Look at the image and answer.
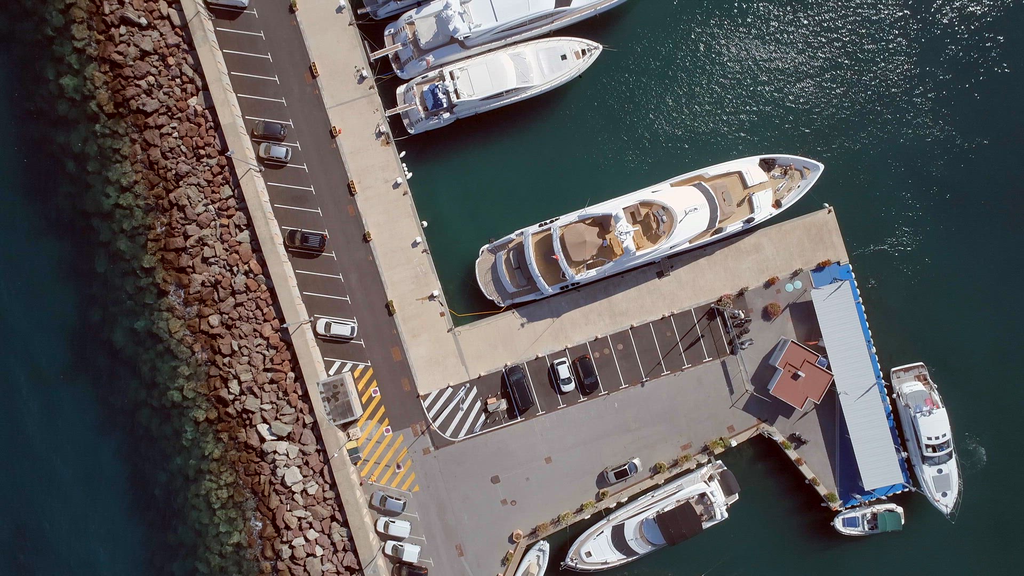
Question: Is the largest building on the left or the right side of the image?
right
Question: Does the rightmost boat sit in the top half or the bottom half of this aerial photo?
bottom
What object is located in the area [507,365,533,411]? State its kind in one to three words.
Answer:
vehicle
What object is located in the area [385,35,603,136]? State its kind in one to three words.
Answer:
boat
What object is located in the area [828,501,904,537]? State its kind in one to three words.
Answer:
boat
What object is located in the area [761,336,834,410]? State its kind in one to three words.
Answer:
building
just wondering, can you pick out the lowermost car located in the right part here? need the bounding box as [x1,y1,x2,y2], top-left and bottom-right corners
[603,457,642,484]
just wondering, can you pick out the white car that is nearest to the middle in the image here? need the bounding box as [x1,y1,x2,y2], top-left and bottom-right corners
[553,357,574,393]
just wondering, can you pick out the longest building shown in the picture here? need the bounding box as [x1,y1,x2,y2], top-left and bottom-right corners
[805,280,904,491]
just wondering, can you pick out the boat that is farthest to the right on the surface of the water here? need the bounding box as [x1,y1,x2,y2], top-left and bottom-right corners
[882,360,965,522]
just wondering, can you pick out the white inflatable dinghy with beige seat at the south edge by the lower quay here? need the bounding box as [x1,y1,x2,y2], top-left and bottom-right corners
[514,538,550,576]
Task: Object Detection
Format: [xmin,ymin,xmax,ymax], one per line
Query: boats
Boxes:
[828,501,904,537]
[357,0,437,26]
[882,360,965,522]
[385,35,603,136]
[475,154,824,306]
[514,538,550,576]
[365,0,634,83]
[560,456,739,569]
